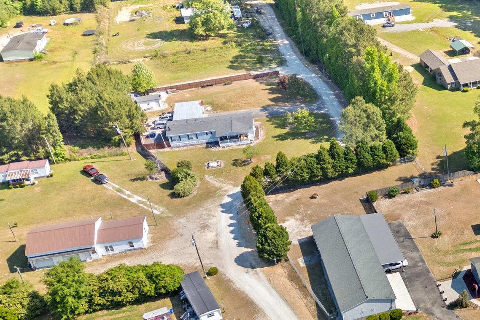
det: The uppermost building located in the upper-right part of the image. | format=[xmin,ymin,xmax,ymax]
[350,4,411,26]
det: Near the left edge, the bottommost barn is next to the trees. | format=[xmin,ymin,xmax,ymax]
[24,215,148,274]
